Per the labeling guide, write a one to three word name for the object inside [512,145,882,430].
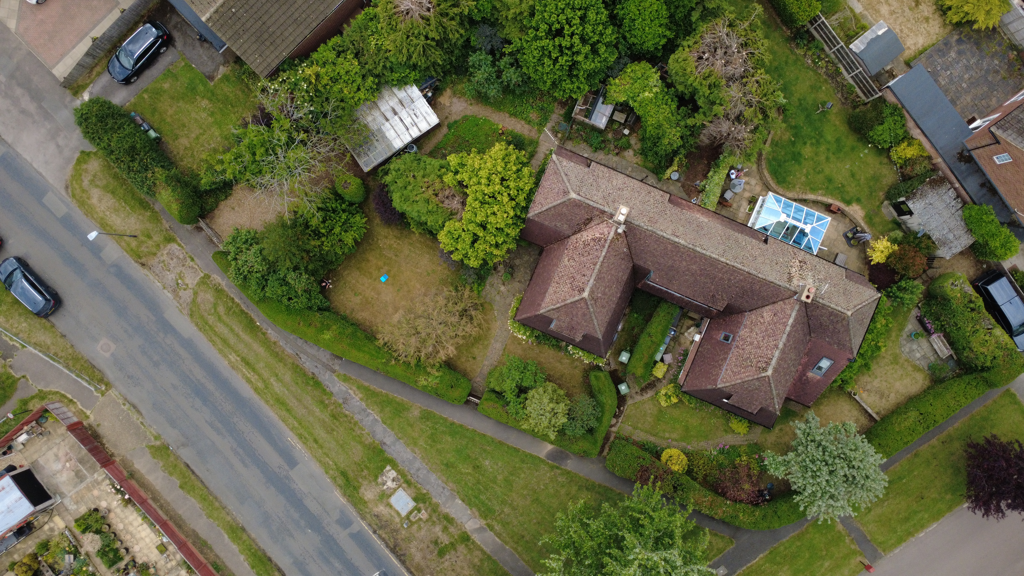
house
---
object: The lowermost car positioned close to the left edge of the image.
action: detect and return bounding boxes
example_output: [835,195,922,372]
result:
[0,251,70,322]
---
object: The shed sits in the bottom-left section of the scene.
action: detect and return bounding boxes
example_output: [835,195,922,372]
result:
[0,463,62,545]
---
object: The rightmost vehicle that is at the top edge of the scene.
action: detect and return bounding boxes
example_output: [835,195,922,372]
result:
[105,15,178,88]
